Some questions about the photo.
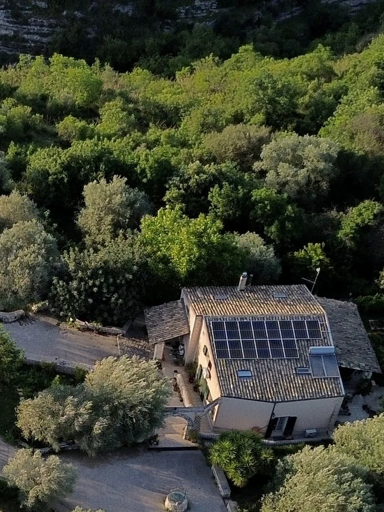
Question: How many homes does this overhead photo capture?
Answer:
1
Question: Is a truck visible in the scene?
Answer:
No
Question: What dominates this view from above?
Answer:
trees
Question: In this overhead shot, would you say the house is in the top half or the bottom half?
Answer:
bottom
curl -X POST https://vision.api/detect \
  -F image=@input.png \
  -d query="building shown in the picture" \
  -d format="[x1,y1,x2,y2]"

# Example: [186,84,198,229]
[143,270,382,439]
